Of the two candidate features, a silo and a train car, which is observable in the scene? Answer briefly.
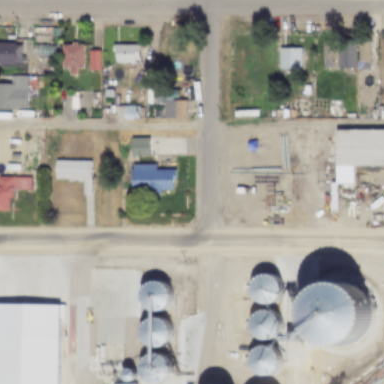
silo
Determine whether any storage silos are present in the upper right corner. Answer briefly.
No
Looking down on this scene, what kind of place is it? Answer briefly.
residential area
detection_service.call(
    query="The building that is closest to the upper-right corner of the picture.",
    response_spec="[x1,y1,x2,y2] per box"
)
[324,42,359,69]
